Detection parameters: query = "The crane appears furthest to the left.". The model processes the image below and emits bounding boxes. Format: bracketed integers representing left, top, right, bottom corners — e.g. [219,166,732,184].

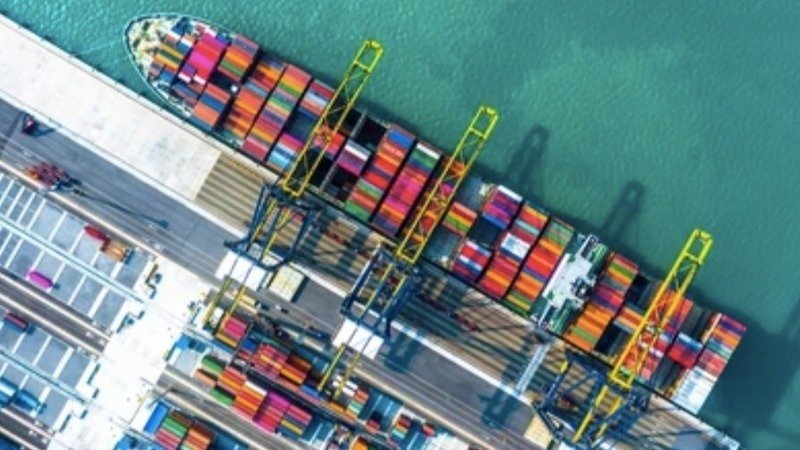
[202,38,383,330]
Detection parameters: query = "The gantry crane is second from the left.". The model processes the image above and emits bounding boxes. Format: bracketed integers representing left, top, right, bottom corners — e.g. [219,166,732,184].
[319,106,499,397]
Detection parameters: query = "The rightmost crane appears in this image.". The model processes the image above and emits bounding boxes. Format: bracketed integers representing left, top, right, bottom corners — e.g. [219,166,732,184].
[533,231,716,450]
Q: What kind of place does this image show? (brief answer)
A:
port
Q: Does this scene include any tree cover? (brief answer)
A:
No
